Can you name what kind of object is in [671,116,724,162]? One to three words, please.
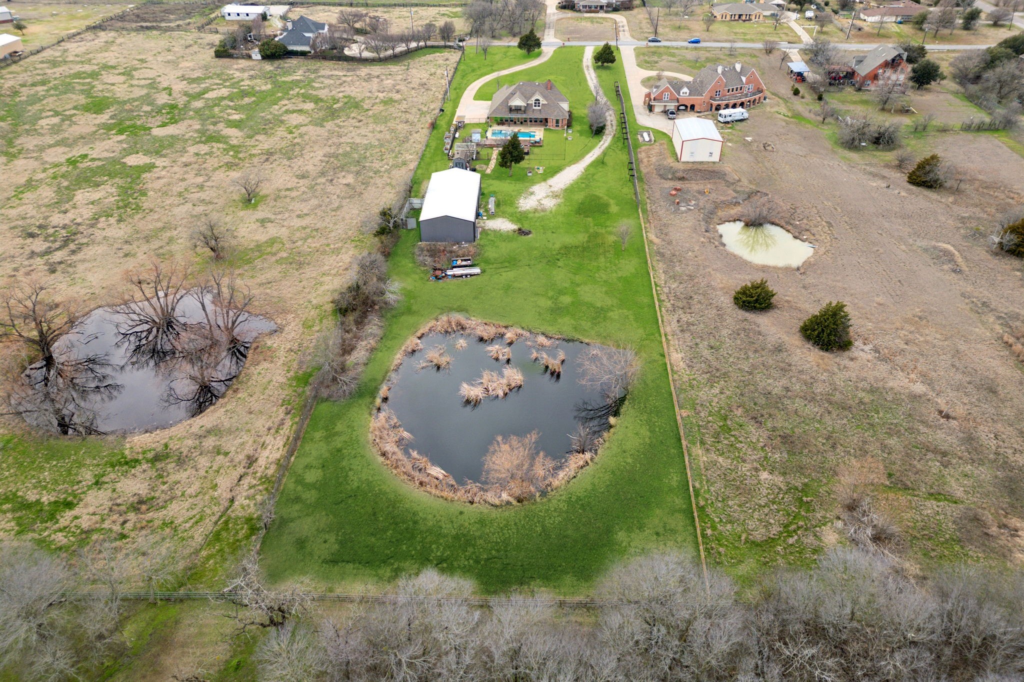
building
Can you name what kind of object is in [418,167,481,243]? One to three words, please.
barn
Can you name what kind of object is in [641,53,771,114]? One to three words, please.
house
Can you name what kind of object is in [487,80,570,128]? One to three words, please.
house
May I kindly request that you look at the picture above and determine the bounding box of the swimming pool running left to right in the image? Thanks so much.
[486,126,544,140]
